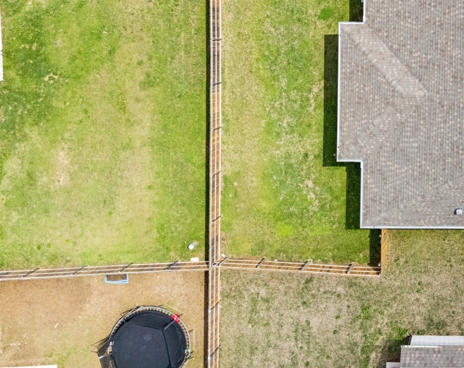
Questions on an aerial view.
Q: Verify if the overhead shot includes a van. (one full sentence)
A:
No, the frame has no van in it.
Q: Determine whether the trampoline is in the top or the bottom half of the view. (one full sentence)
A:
The bottom half of the photo is where the trampoline is.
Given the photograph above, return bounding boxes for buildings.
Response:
[334,0,464,231]
[400,335,464,368]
